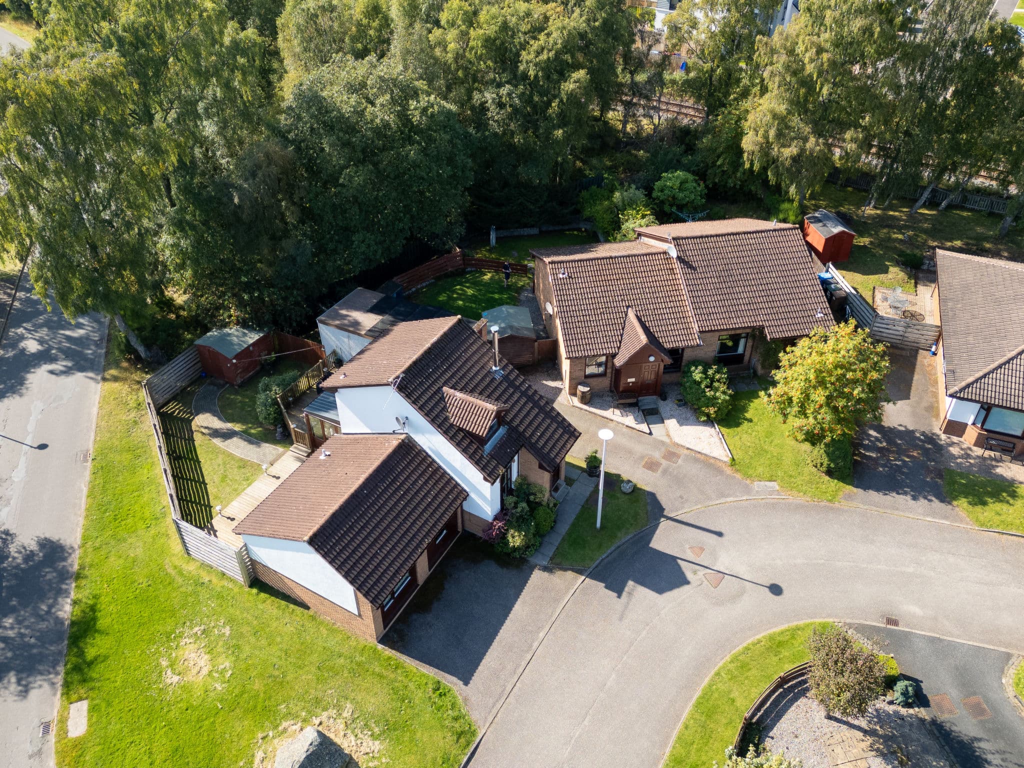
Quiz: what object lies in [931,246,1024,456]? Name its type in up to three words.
house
